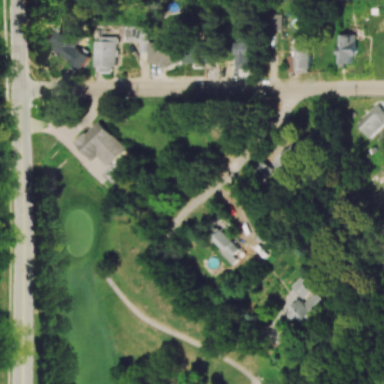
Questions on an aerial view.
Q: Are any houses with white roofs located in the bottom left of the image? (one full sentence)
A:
No, there's no house with a white roof to be seen in the bottom left of the image.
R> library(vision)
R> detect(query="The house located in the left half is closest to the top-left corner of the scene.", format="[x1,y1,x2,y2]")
[46,28,90,70]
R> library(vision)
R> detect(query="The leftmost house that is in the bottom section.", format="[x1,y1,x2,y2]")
[208,225,242,262]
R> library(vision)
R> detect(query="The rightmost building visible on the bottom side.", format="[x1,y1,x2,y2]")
[285,276,324,320]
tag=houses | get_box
[208,225,242,262]
[93,36,118,74]
[147,41,172,65]
[255,160,278,183]
[285,276,324,320]
[46,28,90,70]
[232,42,246,68]
[288,49,310,73]
[356,104,384,138]
[334,34,357,69]
[71,122,124,168]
